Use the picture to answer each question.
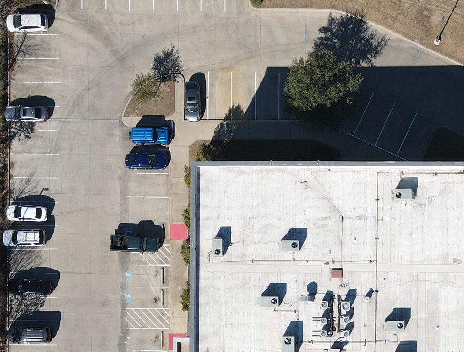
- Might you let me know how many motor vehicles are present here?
10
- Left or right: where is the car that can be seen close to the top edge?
left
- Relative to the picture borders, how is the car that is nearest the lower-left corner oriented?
horizontally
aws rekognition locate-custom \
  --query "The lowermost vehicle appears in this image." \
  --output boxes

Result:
[7,326,53,346]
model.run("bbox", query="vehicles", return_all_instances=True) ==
[5,104,48,123]
[183,81,202,122]
[6,12,49,33]
[7,202,48,223]
[8,276,54,297]
[7,326,53,346]
[2,227,48,247]
[109,232,161,254]
[124,151,169,171]
[126,125,170,145]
